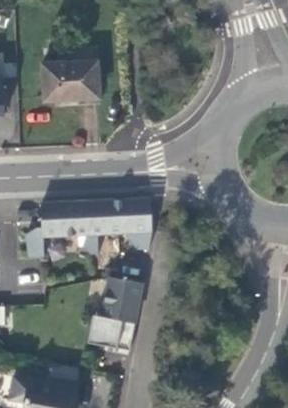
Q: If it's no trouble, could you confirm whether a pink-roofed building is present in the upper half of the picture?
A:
No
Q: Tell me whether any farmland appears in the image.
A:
No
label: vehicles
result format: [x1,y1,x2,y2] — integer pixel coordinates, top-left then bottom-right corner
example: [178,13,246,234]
[26,112,50,123]
[122,266,140,276]
[18,274,40,284]
[107,100,120,120]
